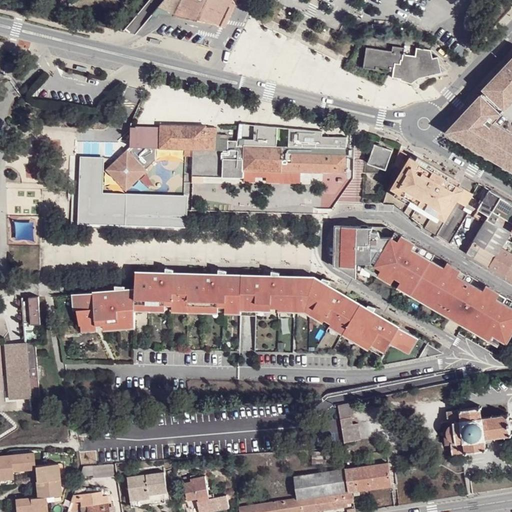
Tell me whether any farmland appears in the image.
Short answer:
No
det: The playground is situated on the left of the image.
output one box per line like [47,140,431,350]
[104,149,184,193]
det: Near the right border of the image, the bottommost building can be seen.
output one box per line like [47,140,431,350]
[445,408,512,455]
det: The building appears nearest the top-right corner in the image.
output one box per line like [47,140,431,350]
[482,61,512,112]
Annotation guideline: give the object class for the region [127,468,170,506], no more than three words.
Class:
house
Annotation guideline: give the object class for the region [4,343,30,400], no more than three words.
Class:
building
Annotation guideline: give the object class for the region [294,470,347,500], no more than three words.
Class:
barn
